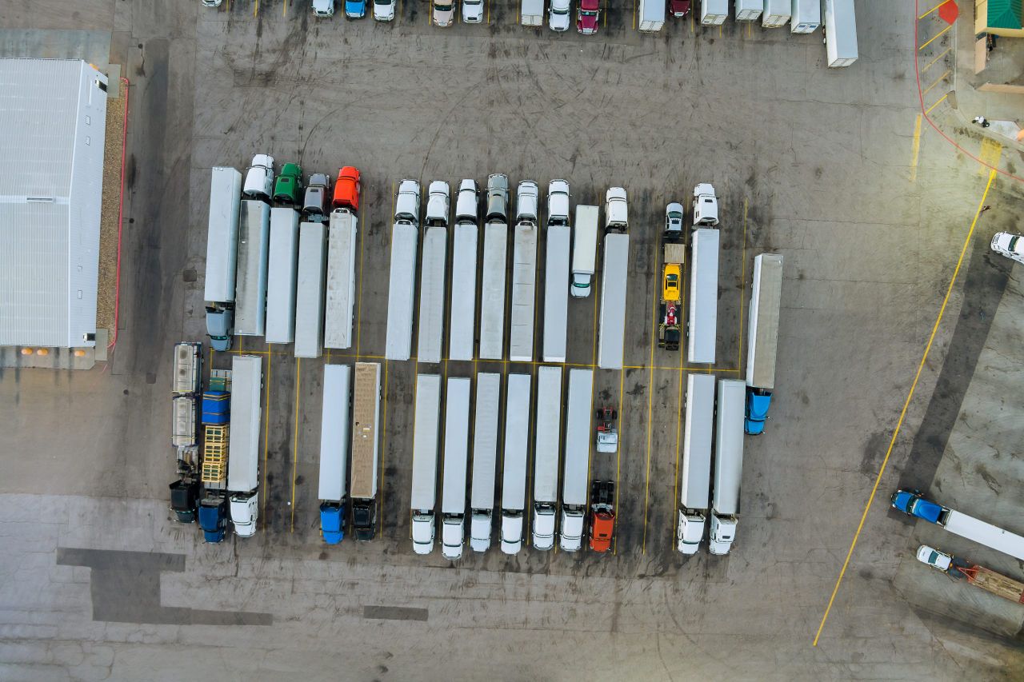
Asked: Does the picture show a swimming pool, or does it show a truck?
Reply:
truck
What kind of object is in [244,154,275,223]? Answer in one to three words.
truck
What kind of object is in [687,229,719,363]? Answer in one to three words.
trailer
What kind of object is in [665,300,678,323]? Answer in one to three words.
vehicle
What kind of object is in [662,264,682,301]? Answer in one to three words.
car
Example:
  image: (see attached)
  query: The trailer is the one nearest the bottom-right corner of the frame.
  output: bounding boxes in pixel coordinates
[957,564,1024,606]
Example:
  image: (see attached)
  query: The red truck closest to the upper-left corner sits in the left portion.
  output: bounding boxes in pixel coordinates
[333,167,360,229]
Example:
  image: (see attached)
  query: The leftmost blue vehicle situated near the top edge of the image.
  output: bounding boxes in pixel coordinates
[342,0,367,20]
